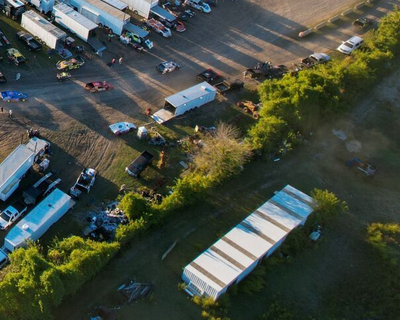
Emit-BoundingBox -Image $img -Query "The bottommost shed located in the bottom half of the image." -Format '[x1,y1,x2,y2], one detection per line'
[181,184,332,310]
